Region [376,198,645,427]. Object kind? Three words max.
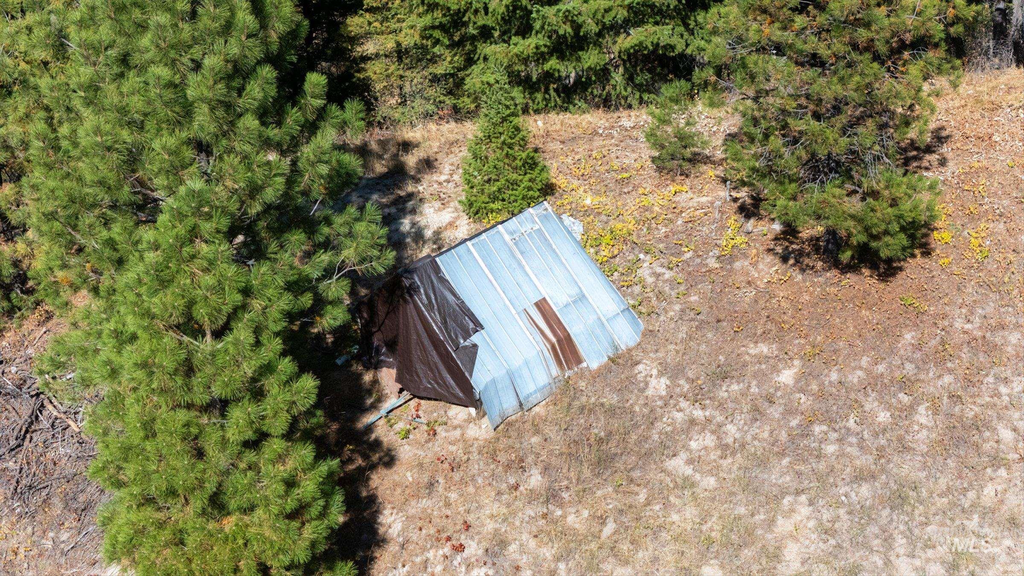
shed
